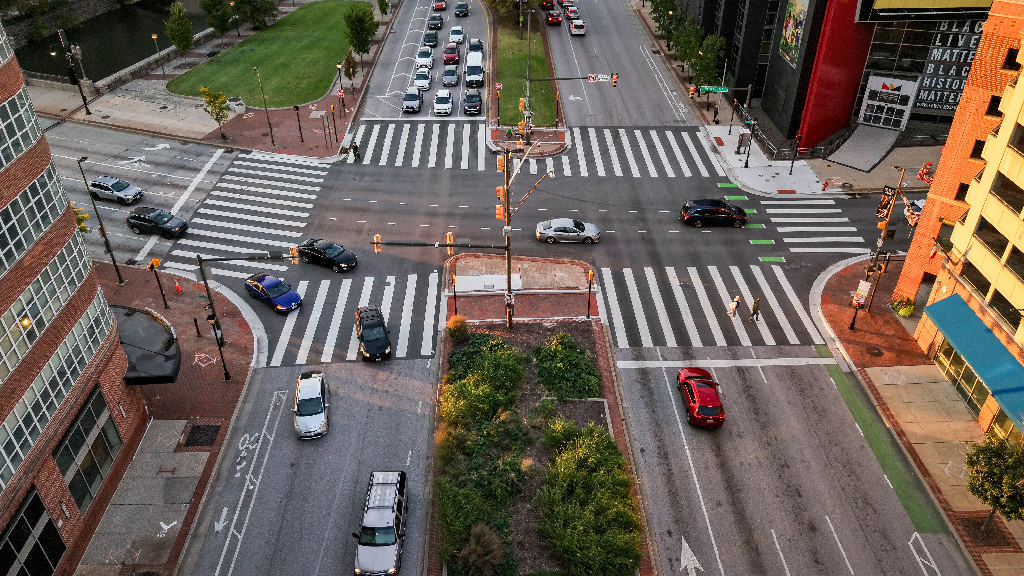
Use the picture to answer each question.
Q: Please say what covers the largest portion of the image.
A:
paved ground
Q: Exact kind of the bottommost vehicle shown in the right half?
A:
car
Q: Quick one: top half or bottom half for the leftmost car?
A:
top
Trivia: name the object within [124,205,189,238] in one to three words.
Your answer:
car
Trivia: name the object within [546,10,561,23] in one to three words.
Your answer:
vehicle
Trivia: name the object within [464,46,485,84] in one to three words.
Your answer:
vehicle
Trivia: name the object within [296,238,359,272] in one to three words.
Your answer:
car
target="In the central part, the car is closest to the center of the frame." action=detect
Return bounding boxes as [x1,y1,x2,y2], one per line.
[536,217,602,244]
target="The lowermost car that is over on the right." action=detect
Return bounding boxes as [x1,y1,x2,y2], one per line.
[677,361,727,424]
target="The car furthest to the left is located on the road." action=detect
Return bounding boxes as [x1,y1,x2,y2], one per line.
[84,174,143,205]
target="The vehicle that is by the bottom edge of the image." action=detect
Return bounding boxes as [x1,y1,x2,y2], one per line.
[350,469,407,576]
